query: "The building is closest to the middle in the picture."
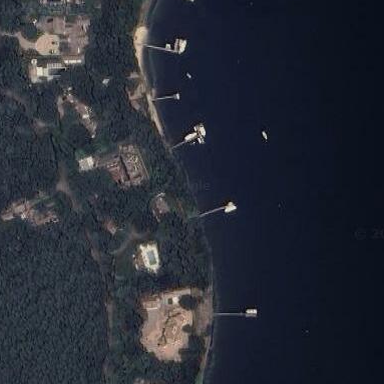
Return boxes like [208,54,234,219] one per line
[150,191,170,216]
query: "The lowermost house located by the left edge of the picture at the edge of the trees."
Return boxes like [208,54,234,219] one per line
[0,194,59,227]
